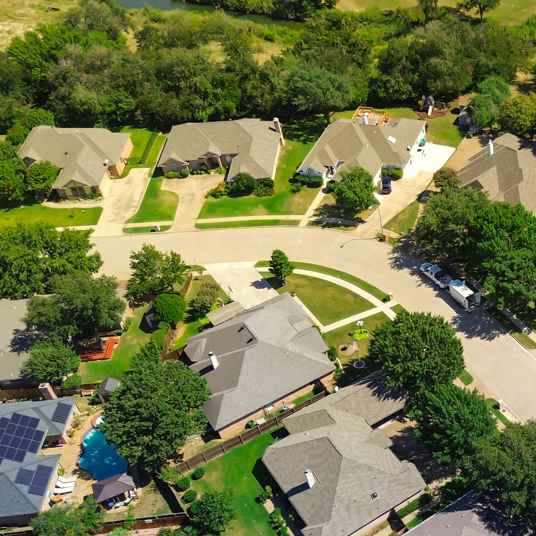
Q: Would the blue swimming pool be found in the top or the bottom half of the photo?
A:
bottom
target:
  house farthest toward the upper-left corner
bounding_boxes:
[18,124,133,202]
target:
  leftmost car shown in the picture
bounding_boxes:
[380,179,393,194]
